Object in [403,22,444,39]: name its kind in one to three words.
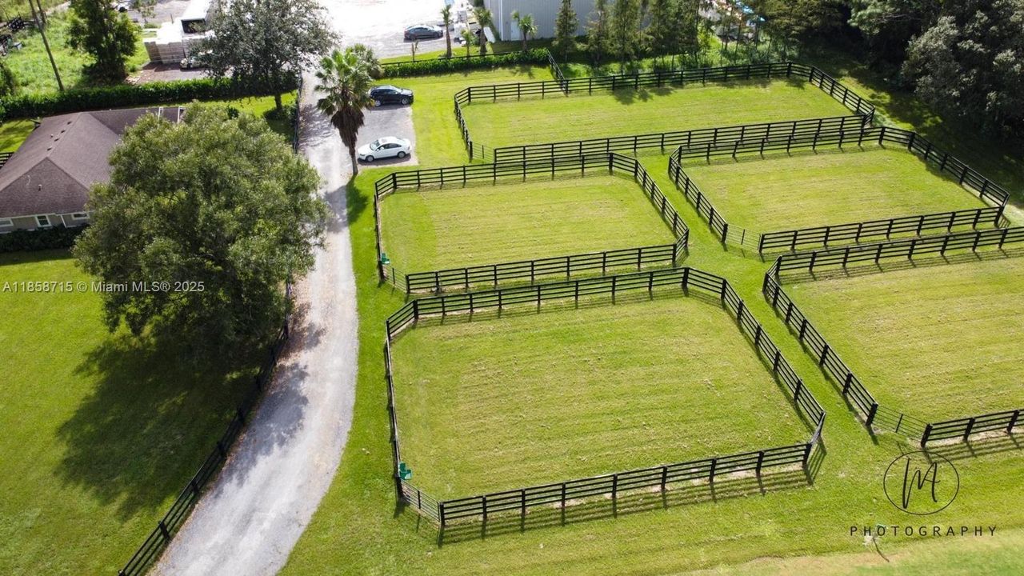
car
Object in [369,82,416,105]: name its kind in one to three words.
car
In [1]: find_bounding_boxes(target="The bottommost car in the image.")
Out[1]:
[358,137,413,161]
